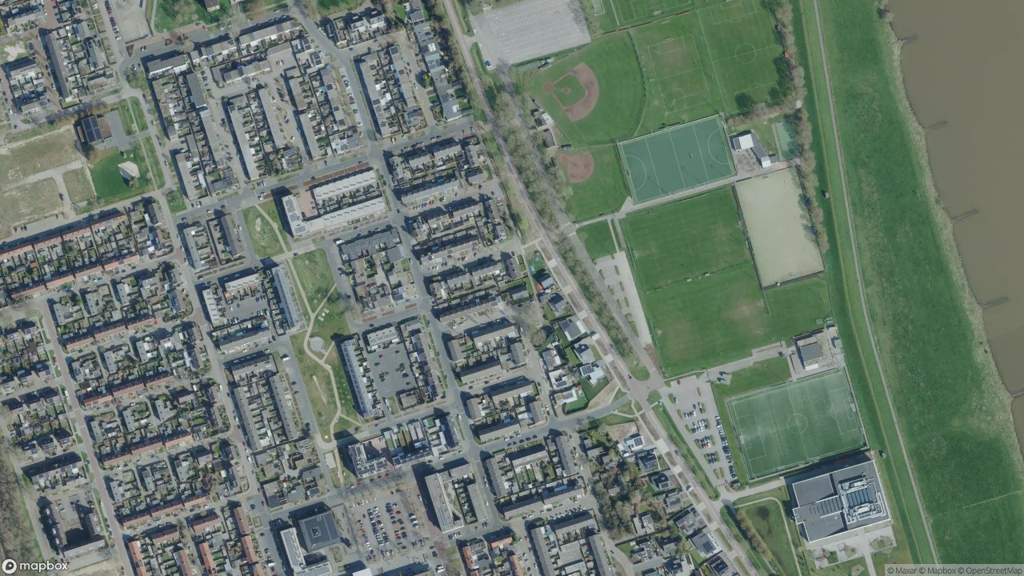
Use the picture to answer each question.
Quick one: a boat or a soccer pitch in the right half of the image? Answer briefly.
soccer pitch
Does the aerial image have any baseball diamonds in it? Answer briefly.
Yes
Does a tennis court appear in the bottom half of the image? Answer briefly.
No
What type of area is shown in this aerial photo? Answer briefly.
residential area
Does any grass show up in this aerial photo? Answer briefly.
Yes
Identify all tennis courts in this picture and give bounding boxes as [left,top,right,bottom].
[773,121,797,161]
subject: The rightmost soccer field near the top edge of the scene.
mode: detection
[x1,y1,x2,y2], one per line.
[695,0,800,112]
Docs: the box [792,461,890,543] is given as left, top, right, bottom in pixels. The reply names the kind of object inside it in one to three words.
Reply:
building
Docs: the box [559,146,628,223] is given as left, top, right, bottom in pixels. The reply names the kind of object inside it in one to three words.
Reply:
baseball field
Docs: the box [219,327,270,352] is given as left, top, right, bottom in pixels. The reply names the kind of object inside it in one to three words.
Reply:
house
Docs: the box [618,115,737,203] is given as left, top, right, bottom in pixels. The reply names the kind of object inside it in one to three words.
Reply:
sports field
